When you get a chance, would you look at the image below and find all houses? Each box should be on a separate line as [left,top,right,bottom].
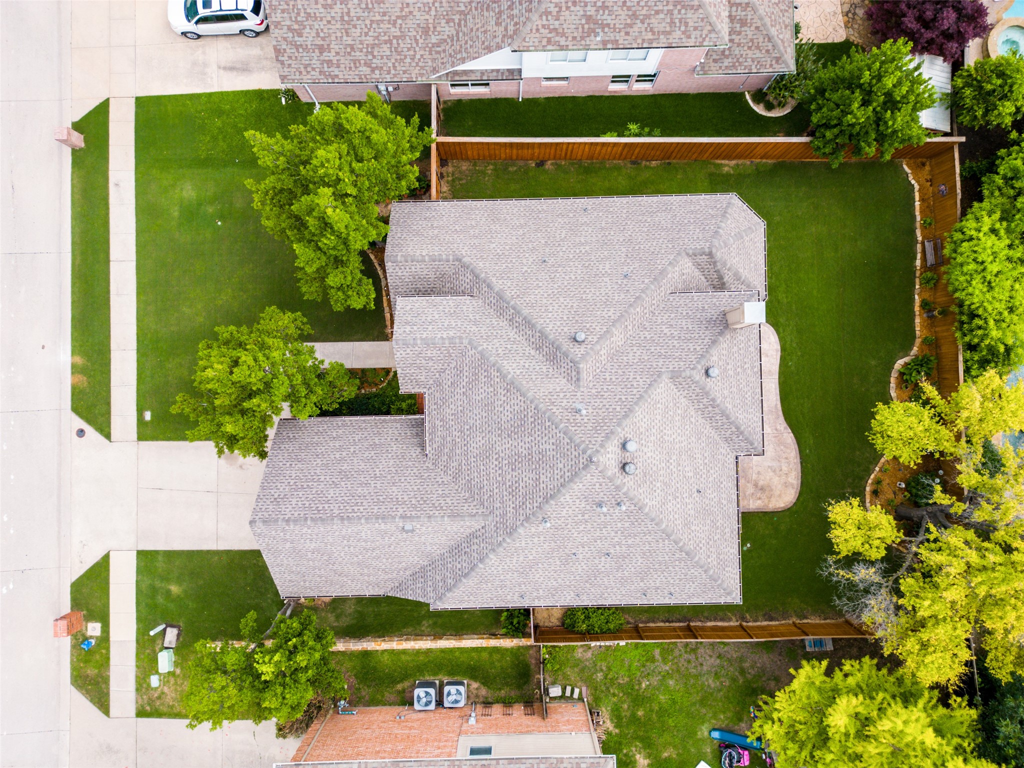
[268,0,796,104]
[249,193,767,610]
[273,696,616,768]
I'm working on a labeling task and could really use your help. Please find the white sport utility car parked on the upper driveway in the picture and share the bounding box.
[168,0,273,42]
